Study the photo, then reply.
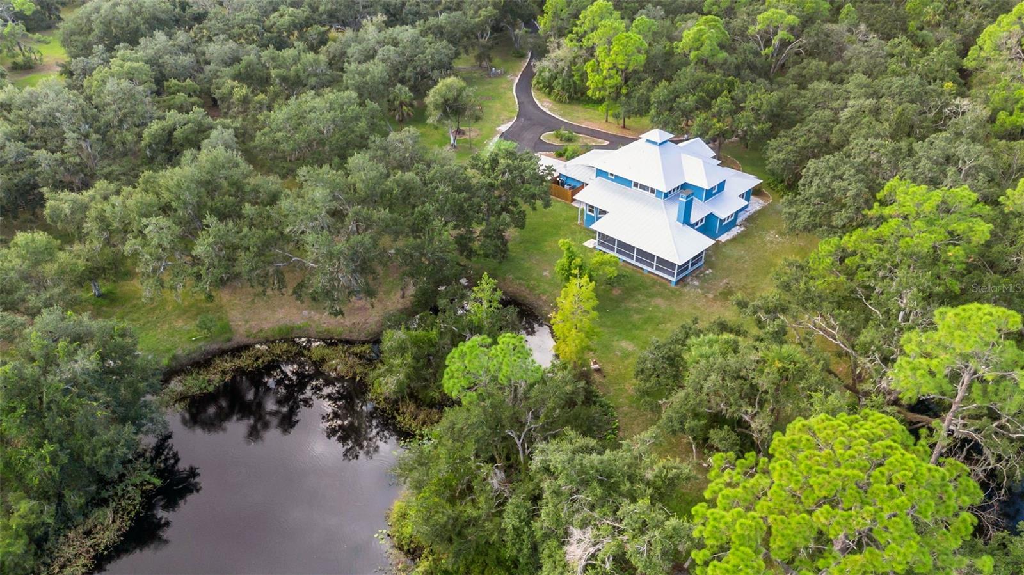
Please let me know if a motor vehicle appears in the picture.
No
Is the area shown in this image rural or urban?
rural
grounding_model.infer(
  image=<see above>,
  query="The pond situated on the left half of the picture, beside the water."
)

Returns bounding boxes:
[80,290,557,575]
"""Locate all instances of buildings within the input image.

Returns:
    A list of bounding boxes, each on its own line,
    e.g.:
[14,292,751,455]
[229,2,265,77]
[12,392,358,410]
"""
[525,128,763,281]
